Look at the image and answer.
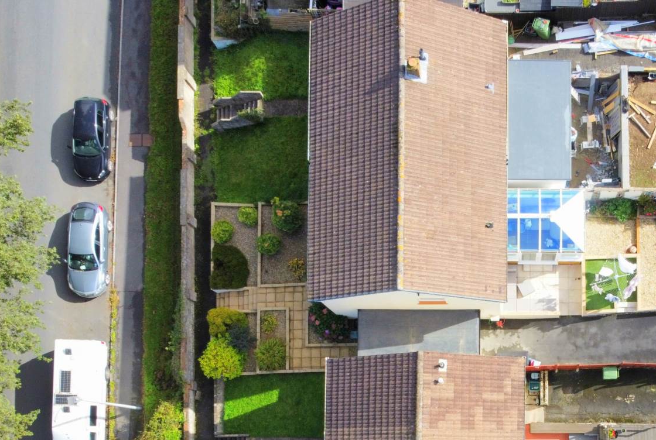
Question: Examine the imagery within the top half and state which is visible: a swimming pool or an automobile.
automobile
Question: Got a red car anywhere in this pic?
No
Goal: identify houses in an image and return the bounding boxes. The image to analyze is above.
[321,351,527,440]
[307,0,510,324]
